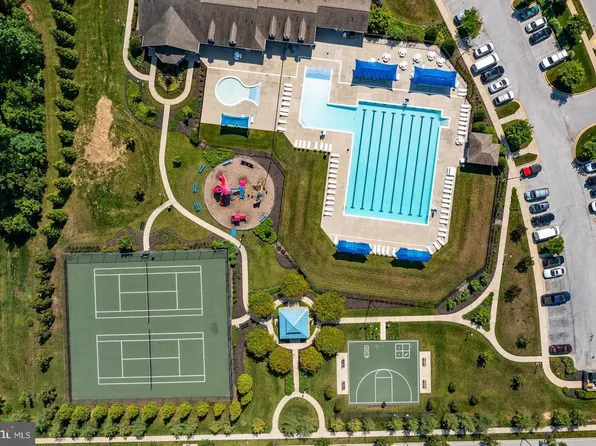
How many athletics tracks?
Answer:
0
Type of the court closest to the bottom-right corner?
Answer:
basketball court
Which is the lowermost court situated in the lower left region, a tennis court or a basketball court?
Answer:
tennis court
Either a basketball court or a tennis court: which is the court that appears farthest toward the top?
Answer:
tennis court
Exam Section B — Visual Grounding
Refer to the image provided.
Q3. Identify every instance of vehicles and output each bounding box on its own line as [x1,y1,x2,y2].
[542,268,565,278]
[540,256,563,267]
[488,79,509,93]
[492,90,514,105]
[524,189,548,200]
[471,53,499,72]
[540,293,569,305]
[584,176,596,186]
[527,203,549,213]
[531,228,560,241]
[547,344,571,355]
[450,9,471,25]
[471,44,493,58]
[539,51,569,69]
[516,8,539,23]
[480,66,503,82]
[519,164,542,176]
[523,19,545,34]
[530,214,554,225]
[527,29,551,44]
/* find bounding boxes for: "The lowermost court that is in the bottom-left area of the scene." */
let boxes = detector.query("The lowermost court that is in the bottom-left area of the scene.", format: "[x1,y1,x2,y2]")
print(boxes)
[69,324,232,401]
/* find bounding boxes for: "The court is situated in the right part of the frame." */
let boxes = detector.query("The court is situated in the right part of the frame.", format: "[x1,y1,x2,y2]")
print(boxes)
[348,340,419,404]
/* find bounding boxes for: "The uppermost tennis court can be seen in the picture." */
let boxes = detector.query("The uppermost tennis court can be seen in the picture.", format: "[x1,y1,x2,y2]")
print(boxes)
[66,249,229,327]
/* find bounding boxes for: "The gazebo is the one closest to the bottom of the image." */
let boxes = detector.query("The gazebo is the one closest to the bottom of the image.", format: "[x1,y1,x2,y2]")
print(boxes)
[279,307,309,338]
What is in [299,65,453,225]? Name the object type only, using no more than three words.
swimming pool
